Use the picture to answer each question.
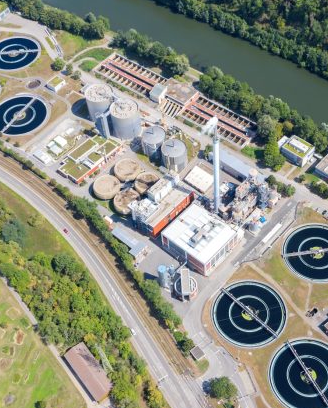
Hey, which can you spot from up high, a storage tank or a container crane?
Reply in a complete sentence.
The one in the frame is a storage tank.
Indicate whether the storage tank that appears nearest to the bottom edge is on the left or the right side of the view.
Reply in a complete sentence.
The storage tank that appears nearest to the bottom edge sits on the right side.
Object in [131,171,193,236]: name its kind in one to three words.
building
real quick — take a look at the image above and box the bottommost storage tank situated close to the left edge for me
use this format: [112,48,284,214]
[0,94,49,137]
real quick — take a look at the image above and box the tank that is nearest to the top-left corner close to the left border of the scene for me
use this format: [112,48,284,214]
[0,36,41,71]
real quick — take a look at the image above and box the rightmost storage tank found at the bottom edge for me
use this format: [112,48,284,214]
[268,338,328,408]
